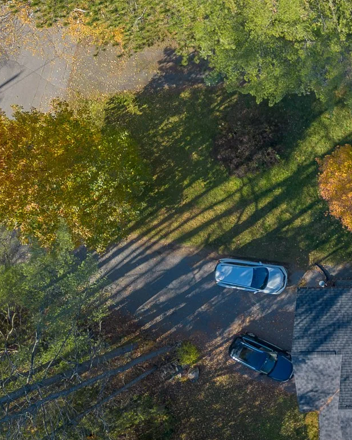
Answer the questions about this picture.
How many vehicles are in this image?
2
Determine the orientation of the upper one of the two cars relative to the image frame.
horizontally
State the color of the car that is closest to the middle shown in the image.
blue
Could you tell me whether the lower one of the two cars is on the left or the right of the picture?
right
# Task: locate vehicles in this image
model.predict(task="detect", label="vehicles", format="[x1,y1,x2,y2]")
[217,259,290,296]
[227,331,293,381]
